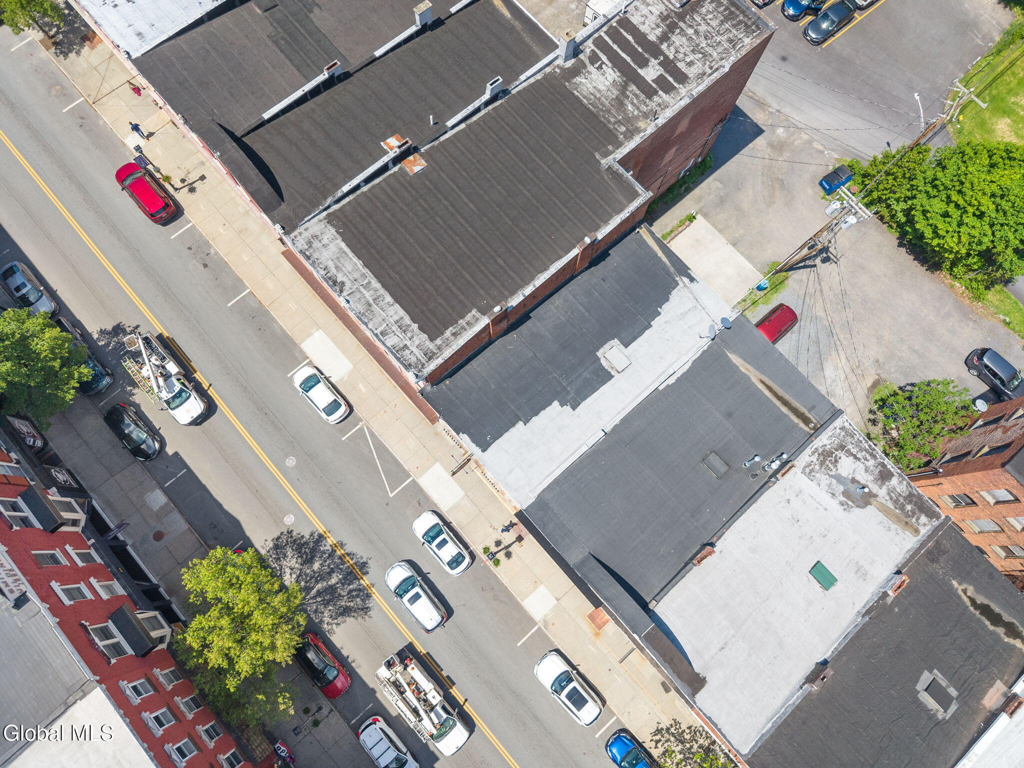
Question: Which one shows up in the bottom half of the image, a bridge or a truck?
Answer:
truck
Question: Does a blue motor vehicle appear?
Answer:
Yes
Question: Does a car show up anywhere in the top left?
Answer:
Yes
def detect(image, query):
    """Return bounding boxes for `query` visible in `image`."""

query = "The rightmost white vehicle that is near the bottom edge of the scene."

[531,646,607,732]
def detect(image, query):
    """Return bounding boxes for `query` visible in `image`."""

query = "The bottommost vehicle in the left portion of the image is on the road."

[358,715,429,768]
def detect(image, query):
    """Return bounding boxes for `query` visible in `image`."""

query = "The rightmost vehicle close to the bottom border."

[602,723,662,768]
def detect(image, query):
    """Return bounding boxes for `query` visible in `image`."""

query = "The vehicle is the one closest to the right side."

[963,348,1024,408]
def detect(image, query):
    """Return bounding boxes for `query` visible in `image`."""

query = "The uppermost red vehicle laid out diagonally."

[114,161,178,228]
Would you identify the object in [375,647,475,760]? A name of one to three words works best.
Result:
truck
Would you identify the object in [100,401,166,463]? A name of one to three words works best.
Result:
car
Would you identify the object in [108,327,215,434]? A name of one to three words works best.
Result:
truck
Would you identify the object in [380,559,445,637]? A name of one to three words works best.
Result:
car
